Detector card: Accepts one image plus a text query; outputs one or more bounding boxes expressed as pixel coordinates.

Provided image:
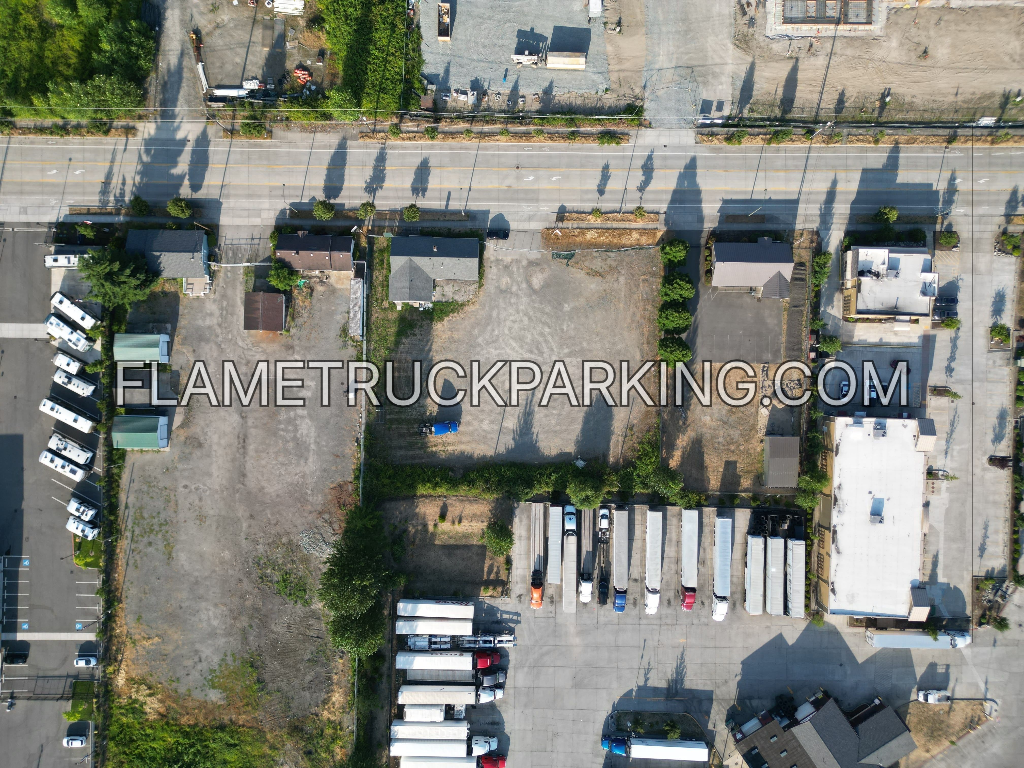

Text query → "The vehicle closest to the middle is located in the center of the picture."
[419,422,460,436]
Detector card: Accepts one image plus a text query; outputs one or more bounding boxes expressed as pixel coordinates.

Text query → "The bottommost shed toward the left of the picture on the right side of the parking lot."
[109,415,173,448]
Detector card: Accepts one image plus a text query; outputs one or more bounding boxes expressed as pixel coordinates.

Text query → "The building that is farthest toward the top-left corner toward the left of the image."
[126,229,209,298]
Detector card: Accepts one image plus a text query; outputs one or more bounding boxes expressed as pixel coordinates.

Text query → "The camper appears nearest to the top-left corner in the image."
[47,256,101,270]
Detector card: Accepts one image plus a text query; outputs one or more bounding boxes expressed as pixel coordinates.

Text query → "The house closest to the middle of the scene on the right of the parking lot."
[389,235,479,312]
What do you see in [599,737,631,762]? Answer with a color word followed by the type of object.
blue truck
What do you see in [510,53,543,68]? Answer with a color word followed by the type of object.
white work vehicle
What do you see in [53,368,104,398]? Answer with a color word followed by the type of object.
white vehicle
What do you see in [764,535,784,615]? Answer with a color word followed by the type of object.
white trailer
